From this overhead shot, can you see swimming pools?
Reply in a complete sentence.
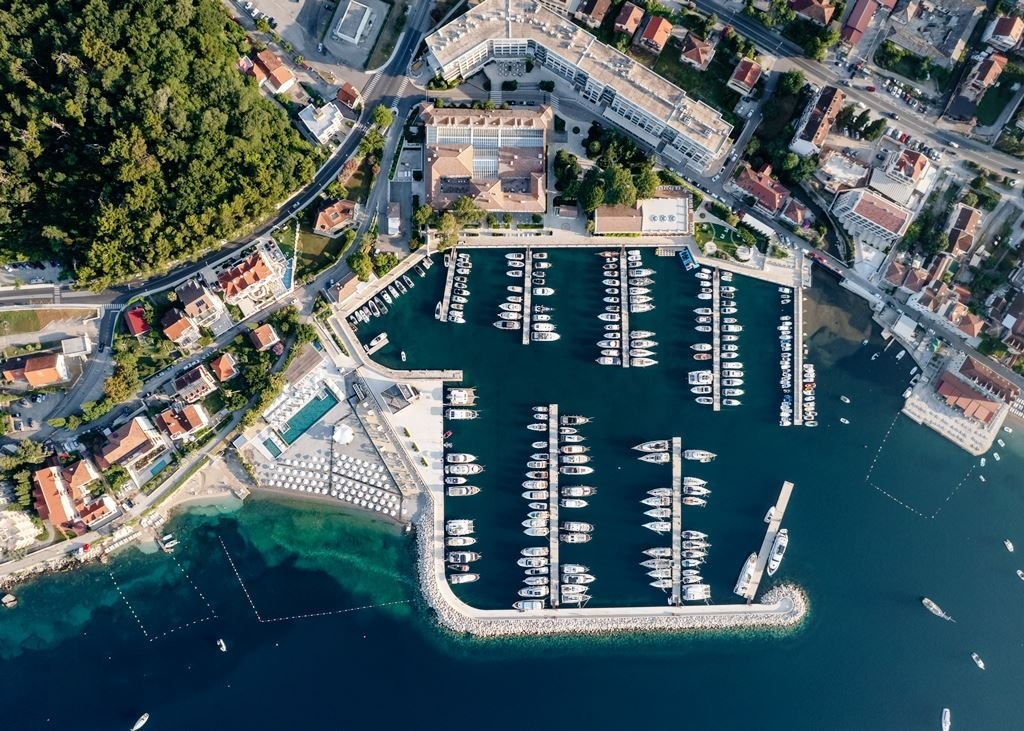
Yes, a swimming pool is visible in the scene.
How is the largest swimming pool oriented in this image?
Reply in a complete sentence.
In this picture, the largest swimming pool lies at an angle.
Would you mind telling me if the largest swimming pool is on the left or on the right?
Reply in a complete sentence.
It is on the left.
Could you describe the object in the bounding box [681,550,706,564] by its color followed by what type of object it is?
white boat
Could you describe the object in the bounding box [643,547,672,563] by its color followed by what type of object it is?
white boat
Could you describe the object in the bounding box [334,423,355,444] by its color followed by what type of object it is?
white tent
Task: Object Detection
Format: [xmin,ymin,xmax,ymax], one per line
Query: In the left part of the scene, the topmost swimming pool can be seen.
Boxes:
[280,258,293,291]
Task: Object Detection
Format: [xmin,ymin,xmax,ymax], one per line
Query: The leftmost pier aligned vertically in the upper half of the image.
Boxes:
[440,247,458,321]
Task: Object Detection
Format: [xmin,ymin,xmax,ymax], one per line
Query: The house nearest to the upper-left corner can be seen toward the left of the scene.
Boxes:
[238,47,298,93]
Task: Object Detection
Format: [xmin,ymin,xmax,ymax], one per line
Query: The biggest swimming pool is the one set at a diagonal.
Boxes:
[277,385,340,447]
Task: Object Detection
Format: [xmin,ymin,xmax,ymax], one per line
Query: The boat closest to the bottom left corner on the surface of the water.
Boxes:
[132,713,147,730]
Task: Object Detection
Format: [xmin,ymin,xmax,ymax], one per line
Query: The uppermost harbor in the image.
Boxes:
[320,233,812,319]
